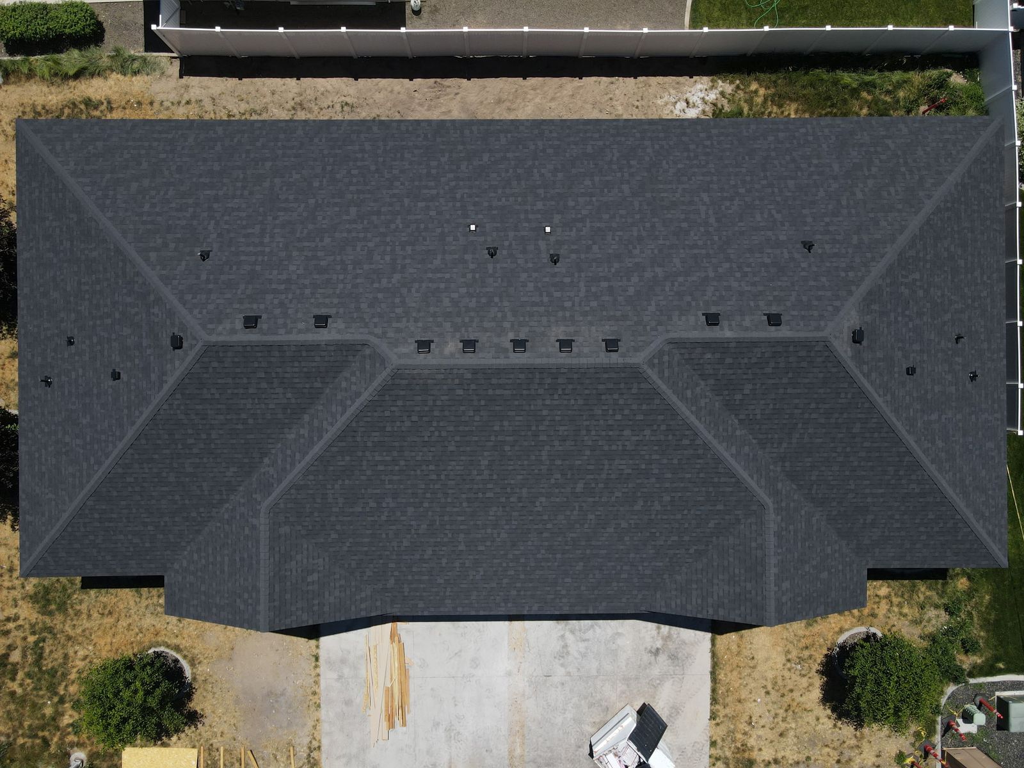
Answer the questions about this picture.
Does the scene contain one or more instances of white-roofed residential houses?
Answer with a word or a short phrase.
No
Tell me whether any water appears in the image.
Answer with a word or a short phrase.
No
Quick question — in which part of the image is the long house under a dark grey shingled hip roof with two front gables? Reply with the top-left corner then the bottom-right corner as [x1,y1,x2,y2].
[13,117,1010,633]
